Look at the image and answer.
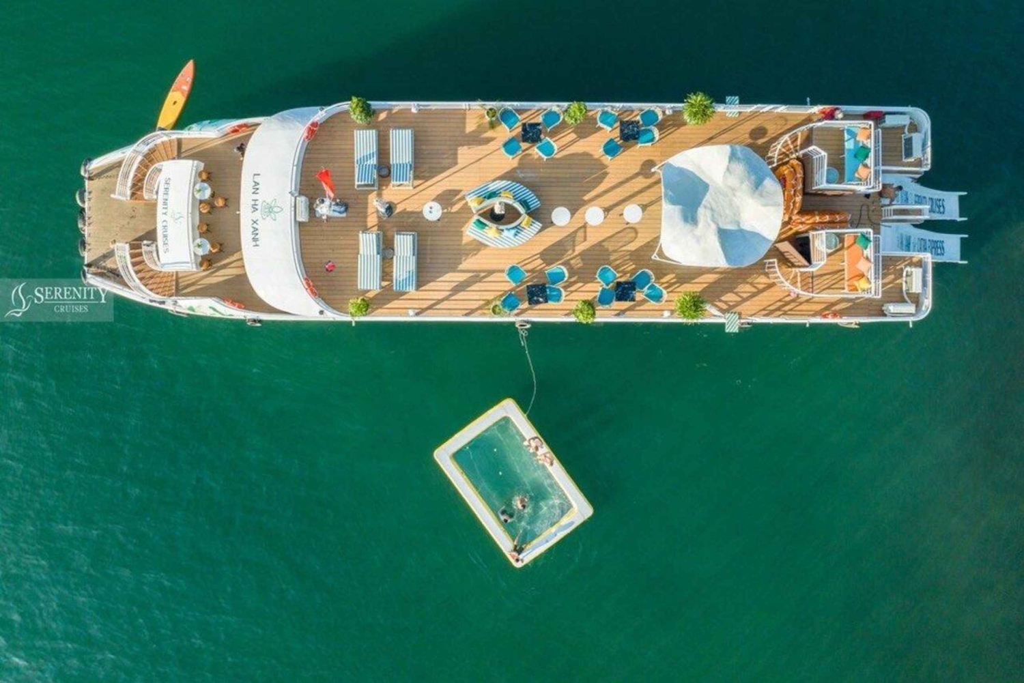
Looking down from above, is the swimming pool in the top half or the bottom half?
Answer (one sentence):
The swimming pool sits in the bottom half of the picture.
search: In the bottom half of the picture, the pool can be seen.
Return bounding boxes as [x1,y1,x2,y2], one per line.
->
[433,398,594,568]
